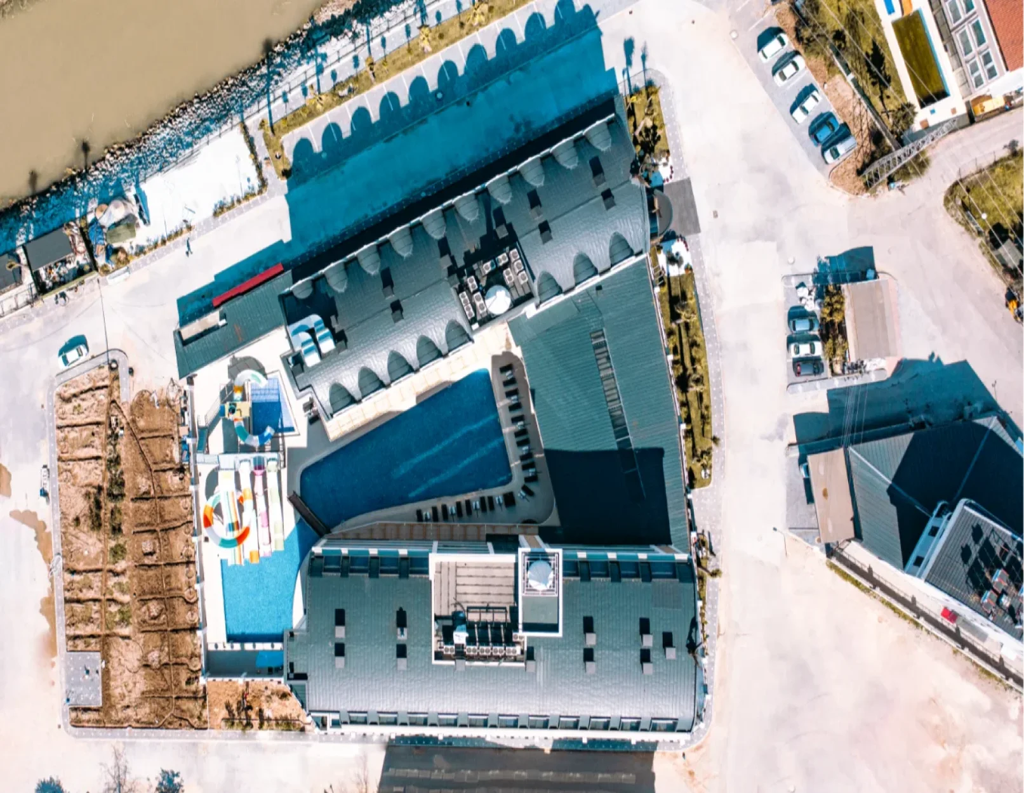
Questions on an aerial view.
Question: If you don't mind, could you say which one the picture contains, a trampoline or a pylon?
pylon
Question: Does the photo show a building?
Yes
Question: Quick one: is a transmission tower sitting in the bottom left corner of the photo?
No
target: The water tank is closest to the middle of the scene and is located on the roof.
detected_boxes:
[485,287,513,317]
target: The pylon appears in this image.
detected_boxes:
[862,118,968,191]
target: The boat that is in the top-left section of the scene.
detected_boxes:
[131,187,148,224]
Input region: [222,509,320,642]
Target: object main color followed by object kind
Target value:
blue swimming pool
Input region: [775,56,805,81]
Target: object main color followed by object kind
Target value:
white car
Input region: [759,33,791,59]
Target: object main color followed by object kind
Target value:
white car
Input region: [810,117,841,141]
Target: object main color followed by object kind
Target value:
blue car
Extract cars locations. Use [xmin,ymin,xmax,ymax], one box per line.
[810,117,841,141]
[759,33,791,59]
[825,133,860,161]
[792,90,825,118]
[789,318,821,332]
[775,56,805,81]
[801,452,814,484]
[54,342,89,367]
[790,341,824,356]
[794,361,826,375]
